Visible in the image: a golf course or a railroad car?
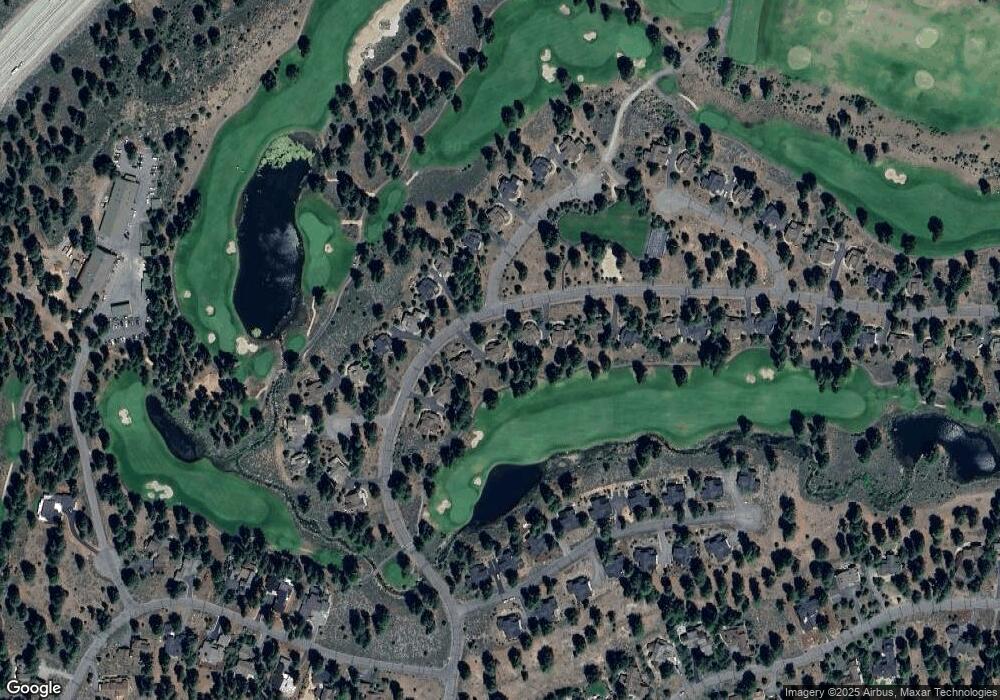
golf course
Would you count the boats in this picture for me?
0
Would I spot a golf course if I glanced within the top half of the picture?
Yes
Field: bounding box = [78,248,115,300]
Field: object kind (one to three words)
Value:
shed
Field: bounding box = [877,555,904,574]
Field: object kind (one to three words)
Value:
house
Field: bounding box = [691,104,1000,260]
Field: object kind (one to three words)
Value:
golf course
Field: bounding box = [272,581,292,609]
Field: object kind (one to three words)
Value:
house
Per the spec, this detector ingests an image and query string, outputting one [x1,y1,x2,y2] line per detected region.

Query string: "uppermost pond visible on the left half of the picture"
[146,393,205,462]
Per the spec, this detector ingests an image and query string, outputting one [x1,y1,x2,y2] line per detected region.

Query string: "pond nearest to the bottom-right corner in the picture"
[892,413,1000,483]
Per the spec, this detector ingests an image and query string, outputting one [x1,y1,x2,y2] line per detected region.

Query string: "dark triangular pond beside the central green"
[470,462,545,526]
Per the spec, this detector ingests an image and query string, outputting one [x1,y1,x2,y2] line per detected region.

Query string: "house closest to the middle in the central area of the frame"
[483,338,511,362]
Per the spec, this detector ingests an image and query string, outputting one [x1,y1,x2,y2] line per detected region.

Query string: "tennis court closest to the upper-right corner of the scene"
[647,227,668,259]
